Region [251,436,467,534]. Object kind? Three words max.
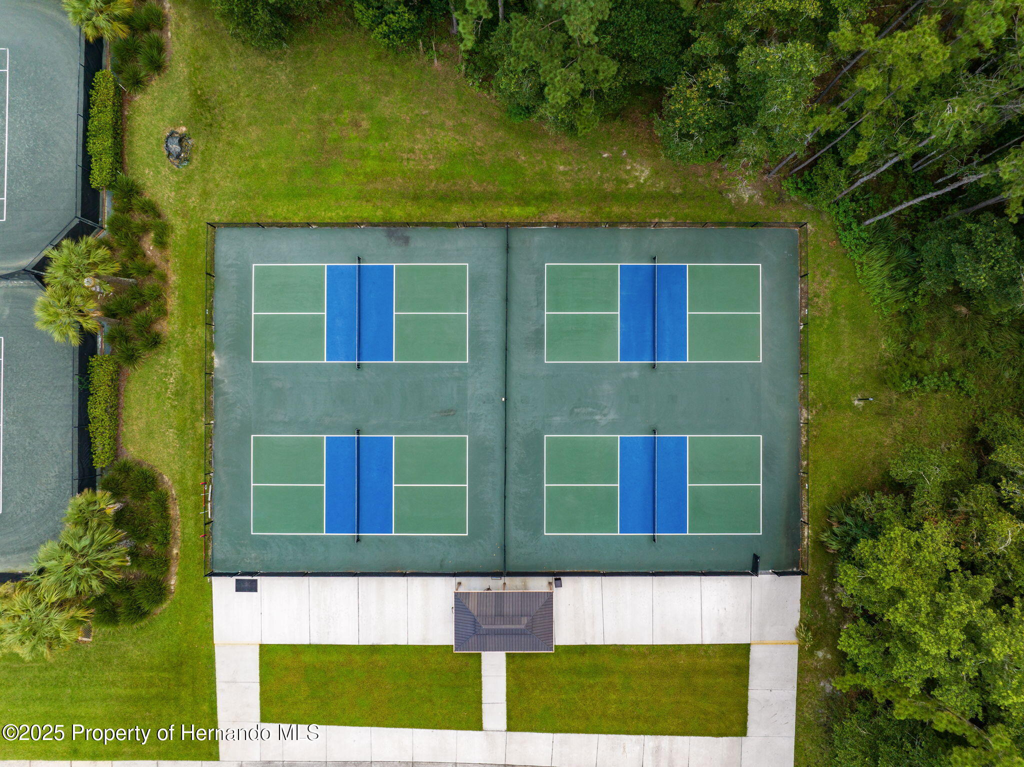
sports court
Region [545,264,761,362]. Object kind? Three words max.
sports court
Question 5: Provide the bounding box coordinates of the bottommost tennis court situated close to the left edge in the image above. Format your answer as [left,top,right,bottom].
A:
[0,278,99,572]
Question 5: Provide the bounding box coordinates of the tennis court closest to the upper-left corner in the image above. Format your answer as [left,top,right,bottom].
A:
[0,0,105,273]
